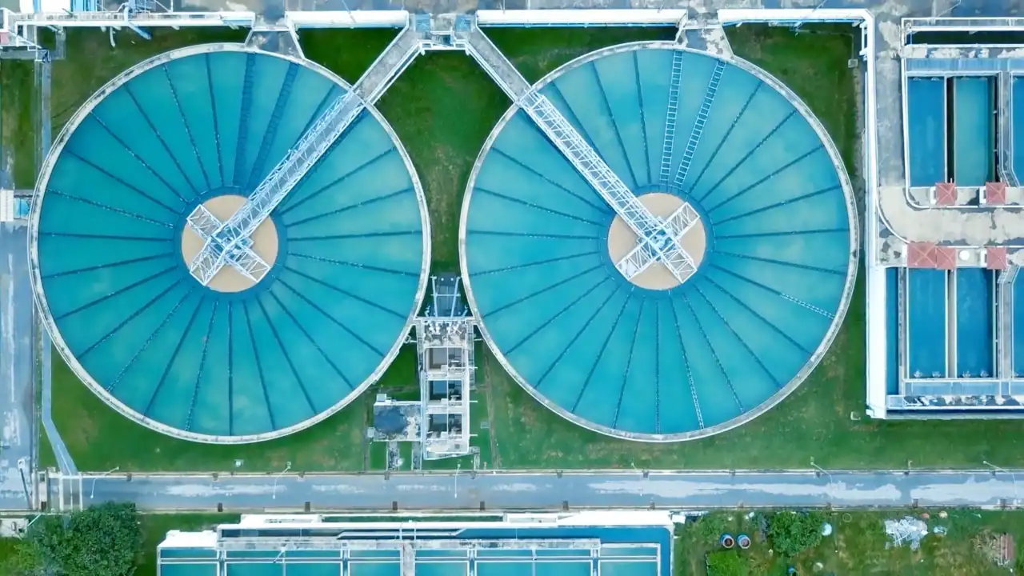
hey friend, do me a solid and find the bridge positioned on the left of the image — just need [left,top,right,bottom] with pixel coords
[185,89,366,285]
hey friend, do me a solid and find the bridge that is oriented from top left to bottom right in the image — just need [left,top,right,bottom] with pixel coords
[520,91,700,284]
